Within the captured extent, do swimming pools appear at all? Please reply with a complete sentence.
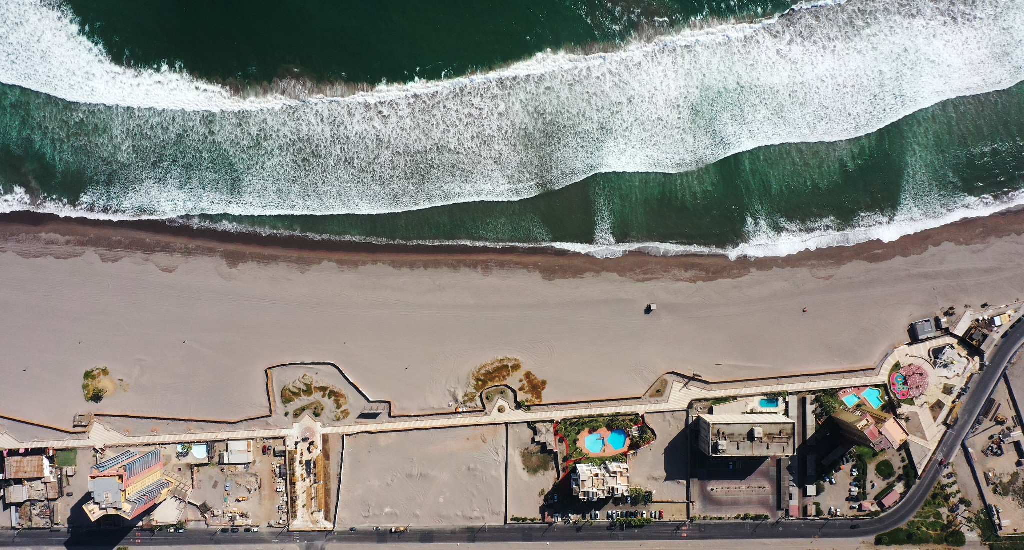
Yes, a swimming pool appears in the view.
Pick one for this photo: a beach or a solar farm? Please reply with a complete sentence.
What you see here is a beach.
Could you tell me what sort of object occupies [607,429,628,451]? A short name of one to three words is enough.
swimming pool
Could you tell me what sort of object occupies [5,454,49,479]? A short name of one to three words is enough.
shed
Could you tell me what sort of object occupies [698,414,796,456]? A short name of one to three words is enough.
building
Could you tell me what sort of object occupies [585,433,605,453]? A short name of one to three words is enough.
swimming pool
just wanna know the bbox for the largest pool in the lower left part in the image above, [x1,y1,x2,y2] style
[190,444,208,459]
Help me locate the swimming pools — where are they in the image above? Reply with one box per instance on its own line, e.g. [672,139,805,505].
[861,387,883,410]
[607,429,628,451]
[842,393,862,408]
[585,433,605,453]
[758,398,779,408]
[190,444,208,459]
